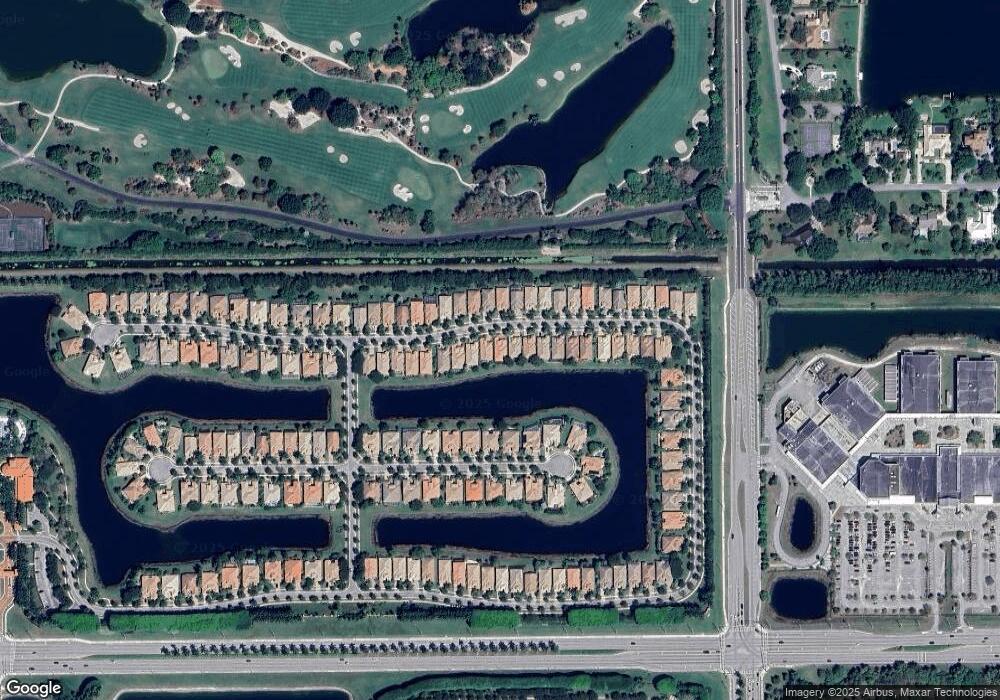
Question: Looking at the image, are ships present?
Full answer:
No, I can't see a single ship in this photo.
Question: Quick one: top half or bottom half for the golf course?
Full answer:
It is in the top half that the golf course appears.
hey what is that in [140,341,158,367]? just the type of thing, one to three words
house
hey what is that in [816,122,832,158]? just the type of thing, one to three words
tennis court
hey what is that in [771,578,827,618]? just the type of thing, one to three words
pond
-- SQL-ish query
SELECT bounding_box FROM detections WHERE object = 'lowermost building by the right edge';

[860,447,1000,509]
